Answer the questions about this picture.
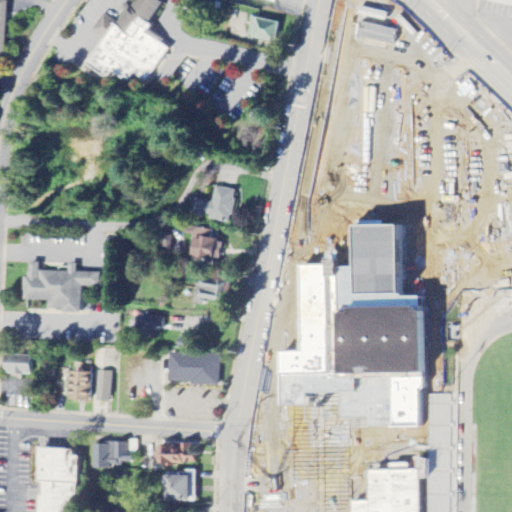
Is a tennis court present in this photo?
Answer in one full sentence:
No, this view has no tennis court in it.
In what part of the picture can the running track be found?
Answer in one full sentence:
You can find the running track in the bottom right area of the picture.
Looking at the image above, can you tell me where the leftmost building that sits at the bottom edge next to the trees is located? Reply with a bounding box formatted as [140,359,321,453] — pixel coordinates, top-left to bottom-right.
[35,447,78,512]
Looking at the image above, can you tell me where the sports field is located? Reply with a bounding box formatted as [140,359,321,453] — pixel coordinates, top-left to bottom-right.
[474,330,512,512]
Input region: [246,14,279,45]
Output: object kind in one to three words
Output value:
building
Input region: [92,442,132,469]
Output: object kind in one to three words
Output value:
house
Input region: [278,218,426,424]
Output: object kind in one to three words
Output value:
building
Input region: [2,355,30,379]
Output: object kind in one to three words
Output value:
house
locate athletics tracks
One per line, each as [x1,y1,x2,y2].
[458,310,512,512]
